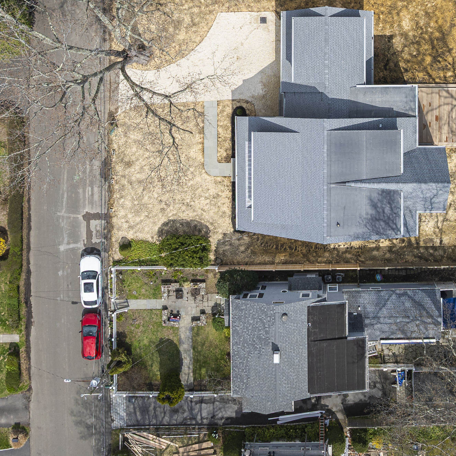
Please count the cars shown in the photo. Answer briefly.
2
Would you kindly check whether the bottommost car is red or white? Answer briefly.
red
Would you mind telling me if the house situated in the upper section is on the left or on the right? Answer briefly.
right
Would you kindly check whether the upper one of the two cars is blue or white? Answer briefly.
white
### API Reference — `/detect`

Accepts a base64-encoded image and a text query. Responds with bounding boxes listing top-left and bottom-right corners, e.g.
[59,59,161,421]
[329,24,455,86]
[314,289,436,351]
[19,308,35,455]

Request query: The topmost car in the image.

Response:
[76,252,102,305]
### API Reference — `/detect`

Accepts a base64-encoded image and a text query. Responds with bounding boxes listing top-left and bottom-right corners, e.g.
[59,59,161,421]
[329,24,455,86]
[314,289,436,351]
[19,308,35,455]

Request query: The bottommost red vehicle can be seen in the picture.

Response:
[77,313,103,362]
